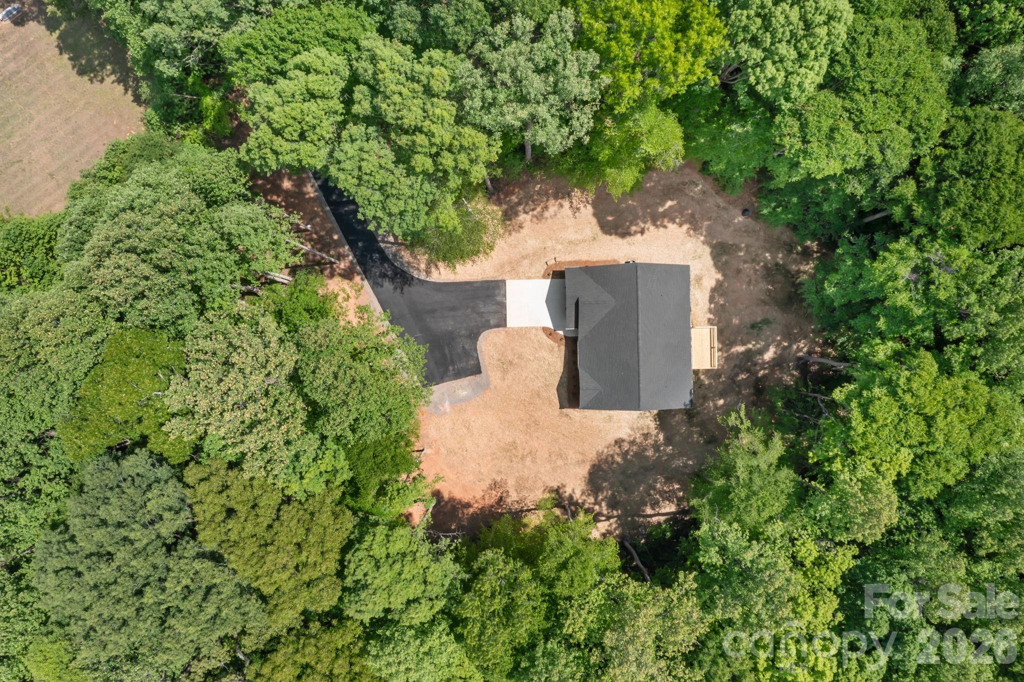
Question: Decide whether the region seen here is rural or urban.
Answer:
rural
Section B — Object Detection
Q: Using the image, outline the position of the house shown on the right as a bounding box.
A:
[563,263,693,411]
